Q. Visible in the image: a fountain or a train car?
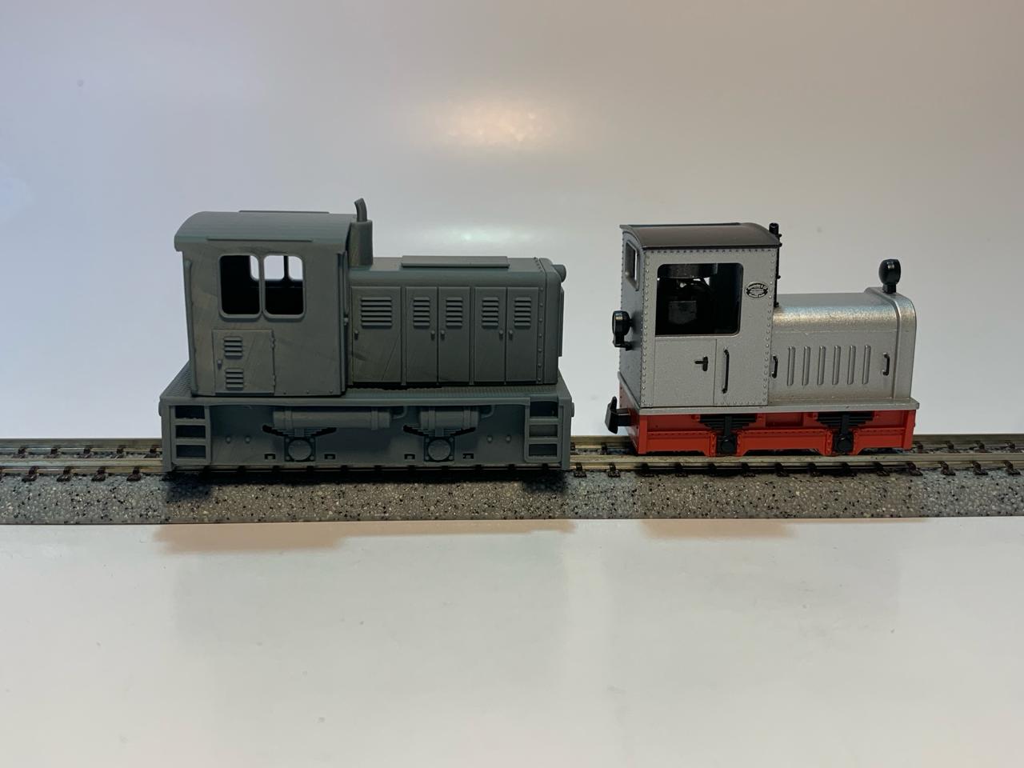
train car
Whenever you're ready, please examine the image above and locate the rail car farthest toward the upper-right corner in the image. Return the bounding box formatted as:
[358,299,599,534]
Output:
[604,222,919,459]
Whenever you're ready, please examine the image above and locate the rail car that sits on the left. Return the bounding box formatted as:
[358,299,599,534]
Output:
[157,196,574,472]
